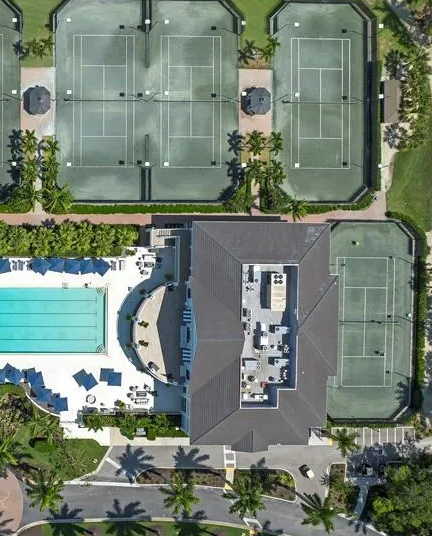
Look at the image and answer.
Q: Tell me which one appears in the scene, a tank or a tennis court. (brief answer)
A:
tennis court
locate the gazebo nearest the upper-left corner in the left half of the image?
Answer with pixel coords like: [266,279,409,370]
[25,88,50,114]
